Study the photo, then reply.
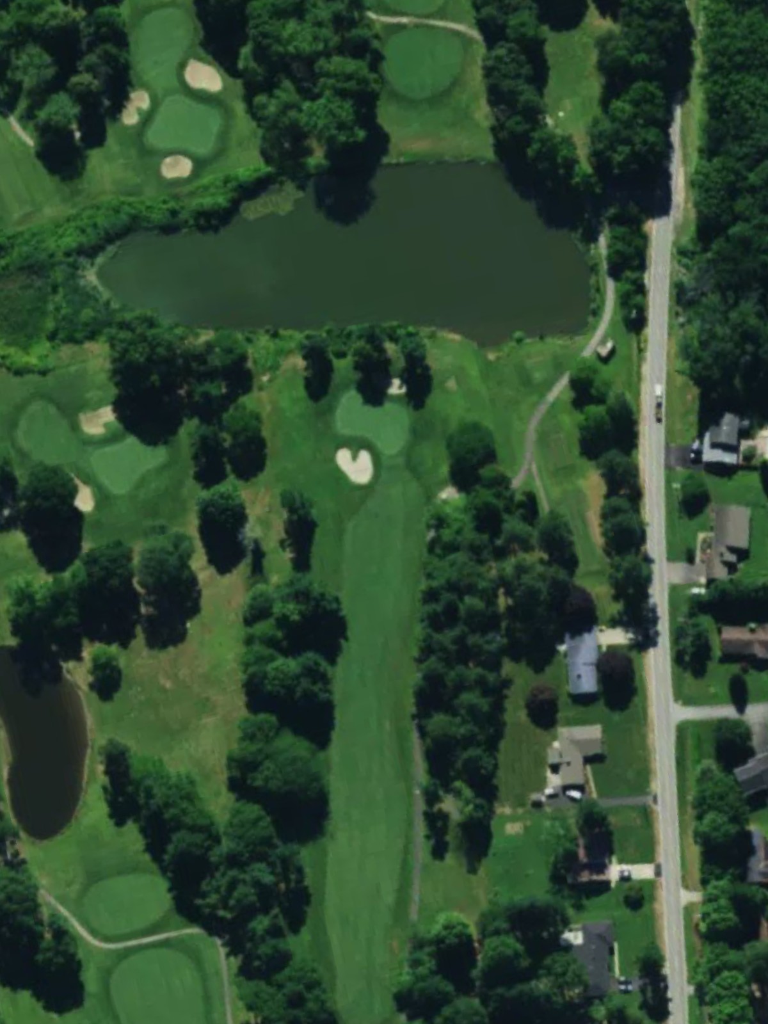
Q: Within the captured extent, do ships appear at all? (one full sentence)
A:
No, there's no ship here.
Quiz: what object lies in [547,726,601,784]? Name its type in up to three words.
house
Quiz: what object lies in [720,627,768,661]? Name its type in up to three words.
house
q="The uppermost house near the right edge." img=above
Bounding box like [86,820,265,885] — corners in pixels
[702,413,739,464]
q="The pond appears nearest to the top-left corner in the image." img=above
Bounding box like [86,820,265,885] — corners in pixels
[94,161,590,348]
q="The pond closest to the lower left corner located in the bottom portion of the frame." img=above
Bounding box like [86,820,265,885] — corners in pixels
[0,640,87,839]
